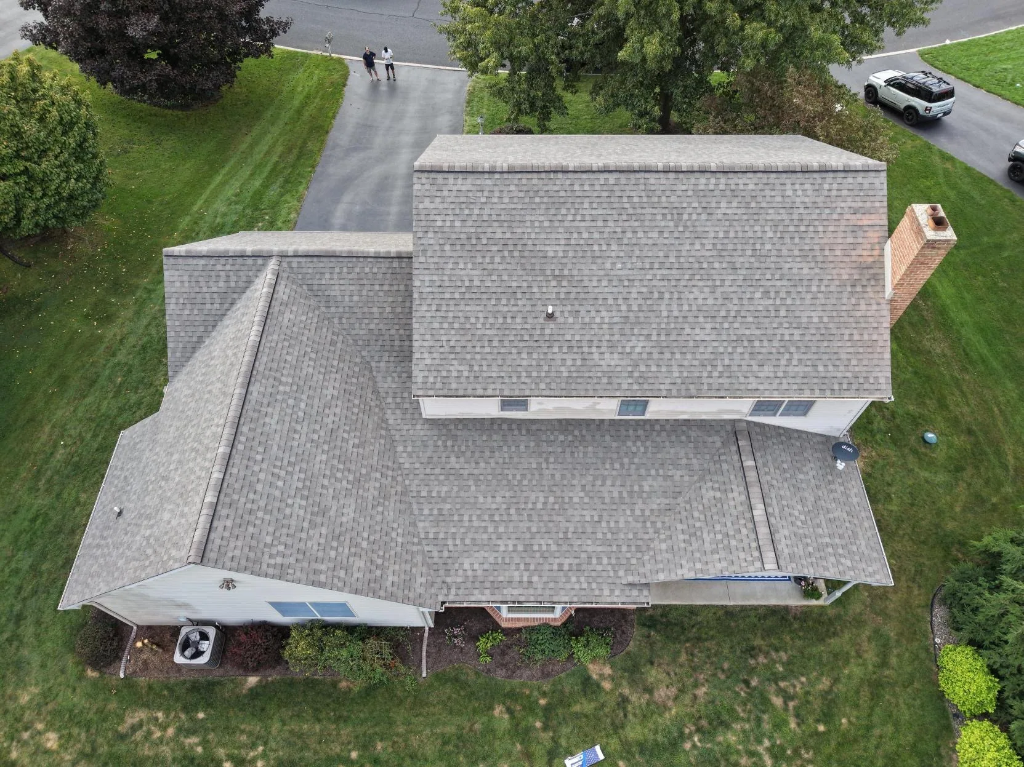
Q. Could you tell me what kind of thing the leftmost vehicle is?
automobile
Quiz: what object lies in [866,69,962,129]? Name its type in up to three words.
car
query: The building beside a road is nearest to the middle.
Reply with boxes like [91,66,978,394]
[54,133,959,632]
